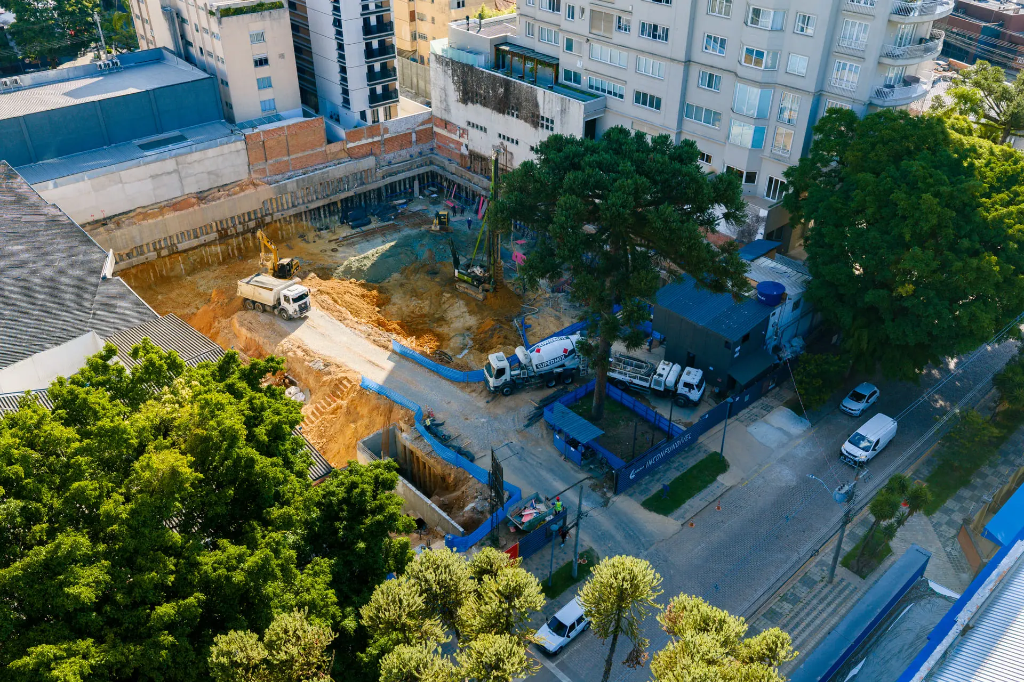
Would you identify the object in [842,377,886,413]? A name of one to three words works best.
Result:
car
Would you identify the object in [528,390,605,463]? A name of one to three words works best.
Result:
shed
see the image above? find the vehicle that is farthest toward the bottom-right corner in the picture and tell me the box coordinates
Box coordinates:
[847,406,905,462]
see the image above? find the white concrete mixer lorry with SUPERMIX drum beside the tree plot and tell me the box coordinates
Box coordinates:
[483,335,587,395]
